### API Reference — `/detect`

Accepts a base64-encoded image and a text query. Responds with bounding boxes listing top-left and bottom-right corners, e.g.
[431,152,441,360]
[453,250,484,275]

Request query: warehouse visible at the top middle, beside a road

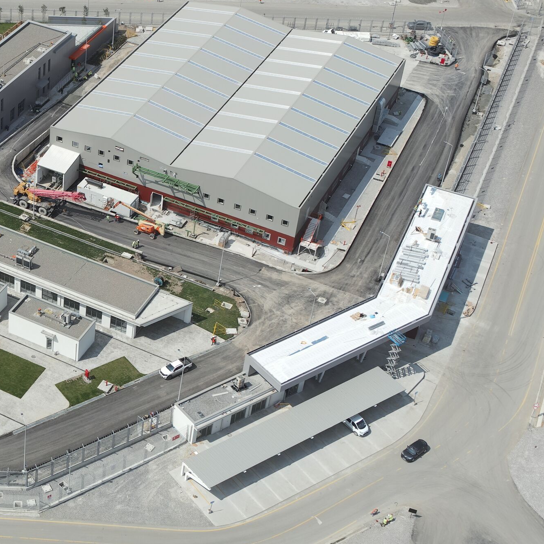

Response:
[50,0,407,251]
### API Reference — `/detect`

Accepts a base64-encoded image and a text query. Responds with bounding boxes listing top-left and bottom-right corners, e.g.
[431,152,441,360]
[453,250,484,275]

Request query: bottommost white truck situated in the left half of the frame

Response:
[158,355,195,379]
